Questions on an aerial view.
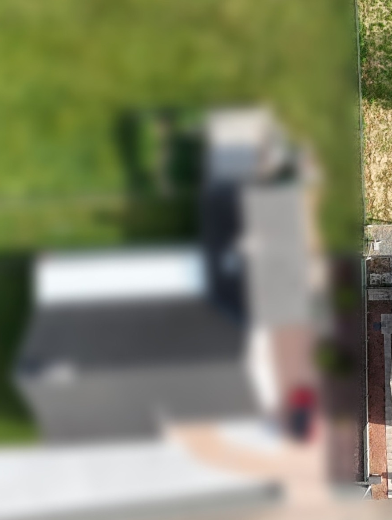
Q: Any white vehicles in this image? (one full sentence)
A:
No, the photo shows no white vehicle.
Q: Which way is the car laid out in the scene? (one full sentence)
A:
I'd say the car is aligned up and down in the picture.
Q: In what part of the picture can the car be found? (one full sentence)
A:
The car sits in the bottom right section of the image.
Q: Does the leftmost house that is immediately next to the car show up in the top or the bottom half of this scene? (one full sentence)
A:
The leftmost house that is immediately next to the car is in the bottom half of the image.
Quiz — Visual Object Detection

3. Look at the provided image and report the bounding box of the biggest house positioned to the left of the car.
[10,293,278,446]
